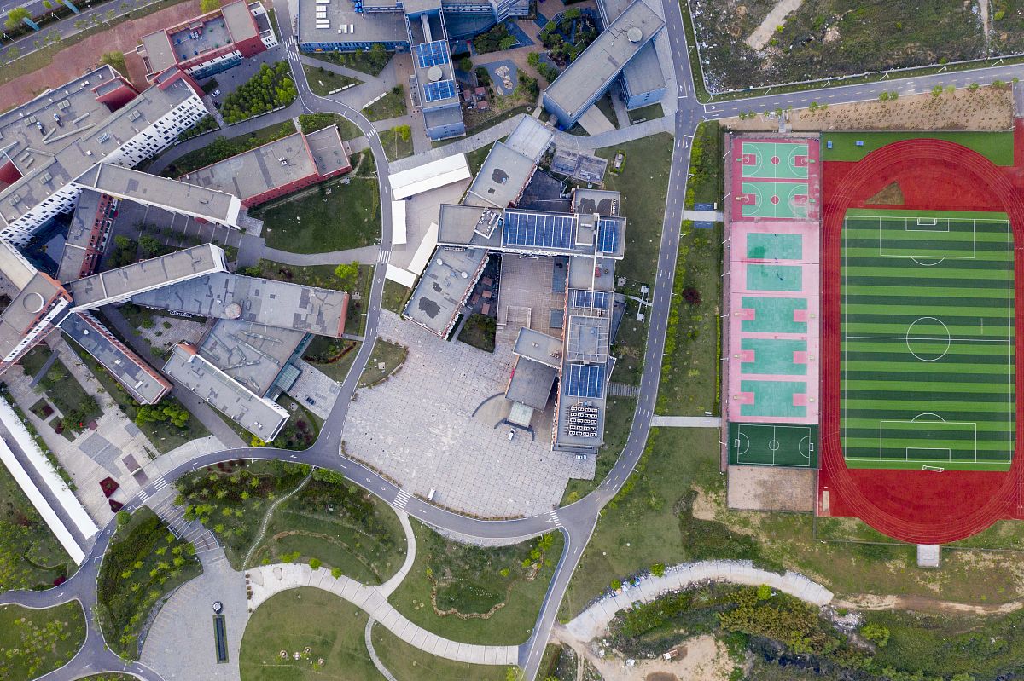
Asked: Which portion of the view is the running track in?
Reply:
right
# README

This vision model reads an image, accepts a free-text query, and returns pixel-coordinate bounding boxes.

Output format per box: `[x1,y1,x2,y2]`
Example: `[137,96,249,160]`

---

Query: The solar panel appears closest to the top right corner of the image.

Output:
[597,219,619,253]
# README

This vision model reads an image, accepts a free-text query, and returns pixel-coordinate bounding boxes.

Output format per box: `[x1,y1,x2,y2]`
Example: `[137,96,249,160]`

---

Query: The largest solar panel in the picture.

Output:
[503,212,577,249]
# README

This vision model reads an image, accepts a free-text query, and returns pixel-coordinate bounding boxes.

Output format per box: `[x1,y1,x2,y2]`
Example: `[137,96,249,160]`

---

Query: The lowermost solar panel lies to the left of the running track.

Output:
[564,364,599,398]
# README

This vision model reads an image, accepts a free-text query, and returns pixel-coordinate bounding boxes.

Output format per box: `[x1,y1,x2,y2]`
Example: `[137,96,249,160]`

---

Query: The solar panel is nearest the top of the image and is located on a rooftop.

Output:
[416,39,449,68]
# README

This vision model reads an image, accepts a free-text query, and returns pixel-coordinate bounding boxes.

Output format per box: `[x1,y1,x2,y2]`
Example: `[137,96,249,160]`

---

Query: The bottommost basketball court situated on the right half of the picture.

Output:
[741,380,807,417]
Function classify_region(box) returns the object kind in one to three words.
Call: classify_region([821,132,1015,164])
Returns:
sports field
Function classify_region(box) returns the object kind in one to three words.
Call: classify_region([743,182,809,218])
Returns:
basketball court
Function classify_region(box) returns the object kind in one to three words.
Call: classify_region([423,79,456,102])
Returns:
solar panel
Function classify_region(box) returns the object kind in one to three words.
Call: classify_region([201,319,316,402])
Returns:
building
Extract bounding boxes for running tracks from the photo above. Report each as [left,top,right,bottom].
[822,137,1024,548]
